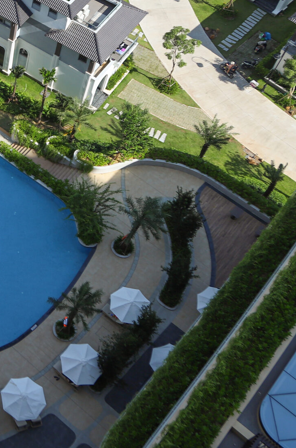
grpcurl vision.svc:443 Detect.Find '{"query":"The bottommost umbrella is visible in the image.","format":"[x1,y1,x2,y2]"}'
[1,377,46,424]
